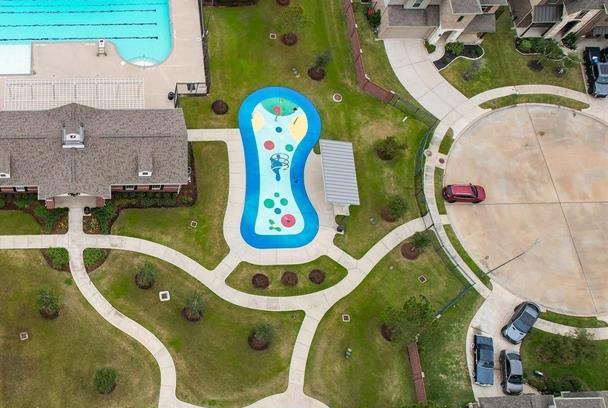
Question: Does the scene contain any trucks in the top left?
No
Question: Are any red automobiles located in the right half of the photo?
Yes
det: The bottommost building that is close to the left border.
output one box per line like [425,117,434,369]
[0,99,187,212]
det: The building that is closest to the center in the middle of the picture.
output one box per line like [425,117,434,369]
[314,140,360,211]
